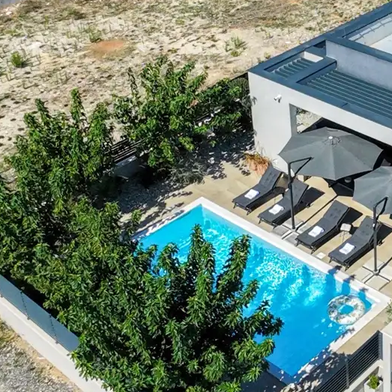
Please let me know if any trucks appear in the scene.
No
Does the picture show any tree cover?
Yes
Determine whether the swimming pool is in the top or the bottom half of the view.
bottom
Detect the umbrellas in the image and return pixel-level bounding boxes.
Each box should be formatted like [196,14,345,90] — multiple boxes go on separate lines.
[271,126,386,241]
[350,167,392,290]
